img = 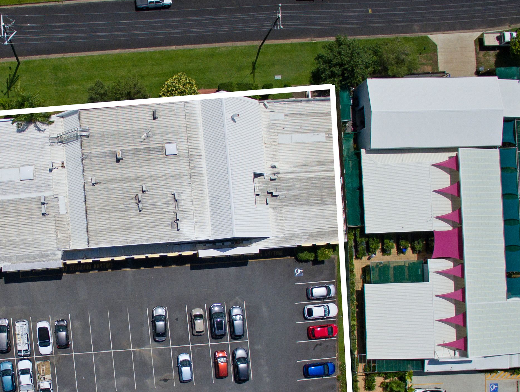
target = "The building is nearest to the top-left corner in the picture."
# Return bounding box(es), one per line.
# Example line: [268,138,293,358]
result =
[0,90,348,271]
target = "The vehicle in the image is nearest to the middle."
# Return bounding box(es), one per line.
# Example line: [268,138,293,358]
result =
[305,283,336,299]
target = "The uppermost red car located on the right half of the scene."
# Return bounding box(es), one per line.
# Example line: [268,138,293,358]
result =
[305,322,338,340]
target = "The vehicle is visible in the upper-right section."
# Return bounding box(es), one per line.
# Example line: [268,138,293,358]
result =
[481,28,519,47]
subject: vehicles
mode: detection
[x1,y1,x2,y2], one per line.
[0,317,13,354]
[135,0,173,9]
[481,28,519,47]
[35,320,53,356]
[232,346,251,384]
[214,349,230,378]
[228,306,246,340]
[17,358,35,392]
[190,308,206,336]
[305,283,336,299]
[209,304,227,340]
[301,361,336,378]
[53,319,70,349]
[0,360,17,392]
[176,352,193,384]
[15,319,32,357]
[305,322,338,340]
[302,302,339,320]
[151,306,169,342]
[35,360,54,392]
